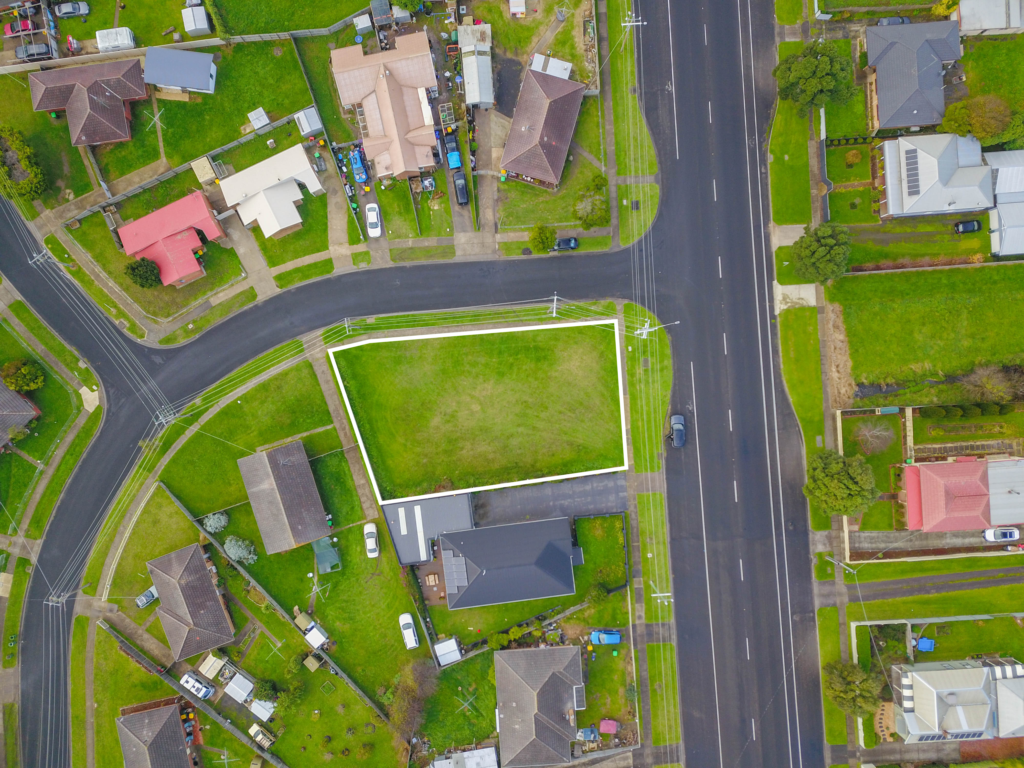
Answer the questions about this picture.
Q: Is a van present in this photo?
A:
Yes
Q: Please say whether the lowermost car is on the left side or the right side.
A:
left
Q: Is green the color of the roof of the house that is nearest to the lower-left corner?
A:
No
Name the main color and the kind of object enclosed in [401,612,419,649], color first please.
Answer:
white car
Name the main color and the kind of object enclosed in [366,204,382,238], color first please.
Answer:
white car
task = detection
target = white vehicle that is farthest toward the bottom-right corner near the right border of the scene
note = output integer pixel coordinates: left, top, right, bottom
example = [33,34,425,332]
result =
[981,526,1020,542]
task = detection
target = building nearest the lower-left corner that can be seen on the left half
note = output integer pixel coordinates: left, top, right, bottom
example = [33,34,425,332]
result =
[115,701,196,768]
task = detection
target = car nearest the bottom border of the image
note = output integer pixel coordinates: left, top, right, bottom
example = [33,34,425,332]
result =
[249,721,279,750]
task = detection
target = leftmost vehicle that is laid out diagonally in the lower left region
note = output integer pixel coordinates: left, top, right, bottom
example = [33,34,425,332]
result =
[133,585,157,609]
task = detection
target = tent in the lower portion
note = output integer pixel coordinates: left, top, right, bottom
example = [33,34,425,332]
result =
[311,533,344,574]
